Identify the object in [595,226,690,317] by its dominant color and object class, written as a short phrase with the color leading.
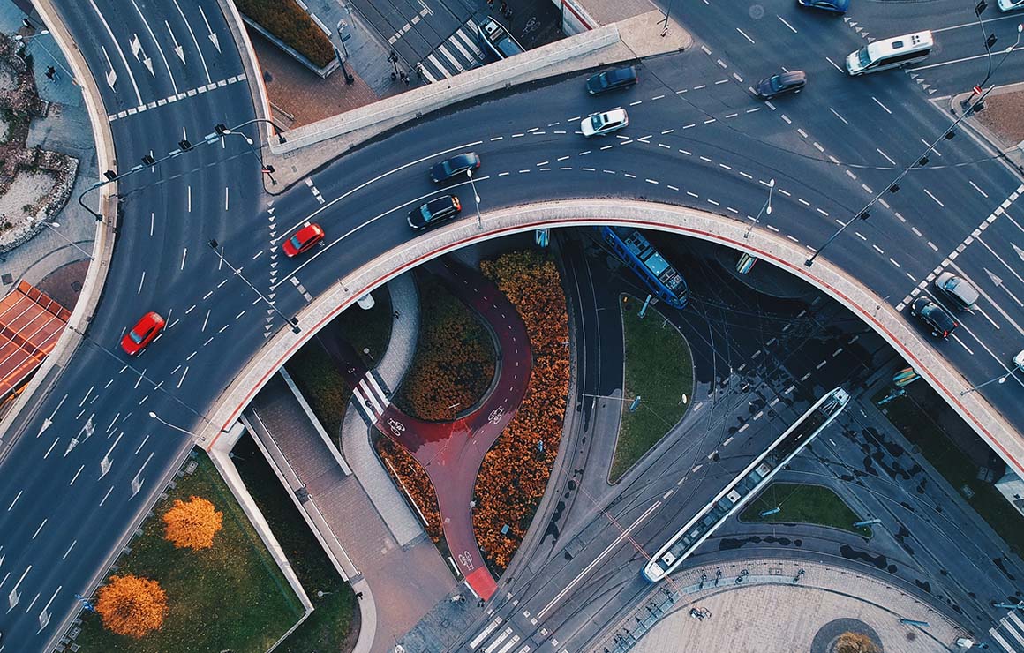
blue train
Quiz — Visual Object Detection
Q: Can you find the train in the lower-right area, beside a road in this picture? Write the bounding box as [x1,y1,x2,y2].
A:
[641,389,851,579]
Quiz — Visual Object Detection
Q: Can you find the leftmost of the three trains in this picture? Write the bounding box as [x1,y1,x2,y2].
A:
[477,16,525,63]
